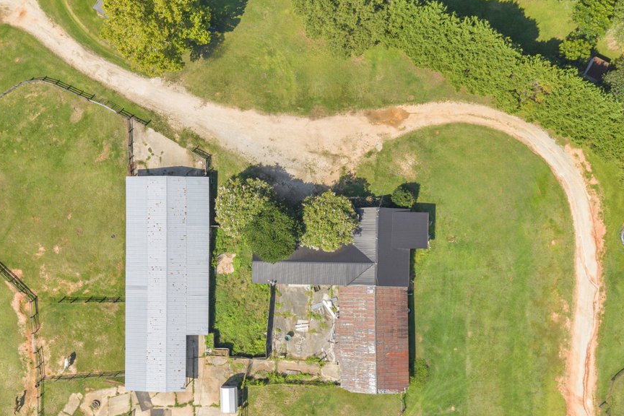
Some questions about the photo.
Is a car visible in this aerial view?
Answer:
No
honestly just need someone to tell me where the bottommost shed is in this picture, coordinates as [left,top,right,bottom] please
[221,385,238,413]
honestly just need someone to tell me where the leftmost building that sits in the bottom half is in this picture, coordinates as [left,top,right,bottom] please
[125,176,210,391]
